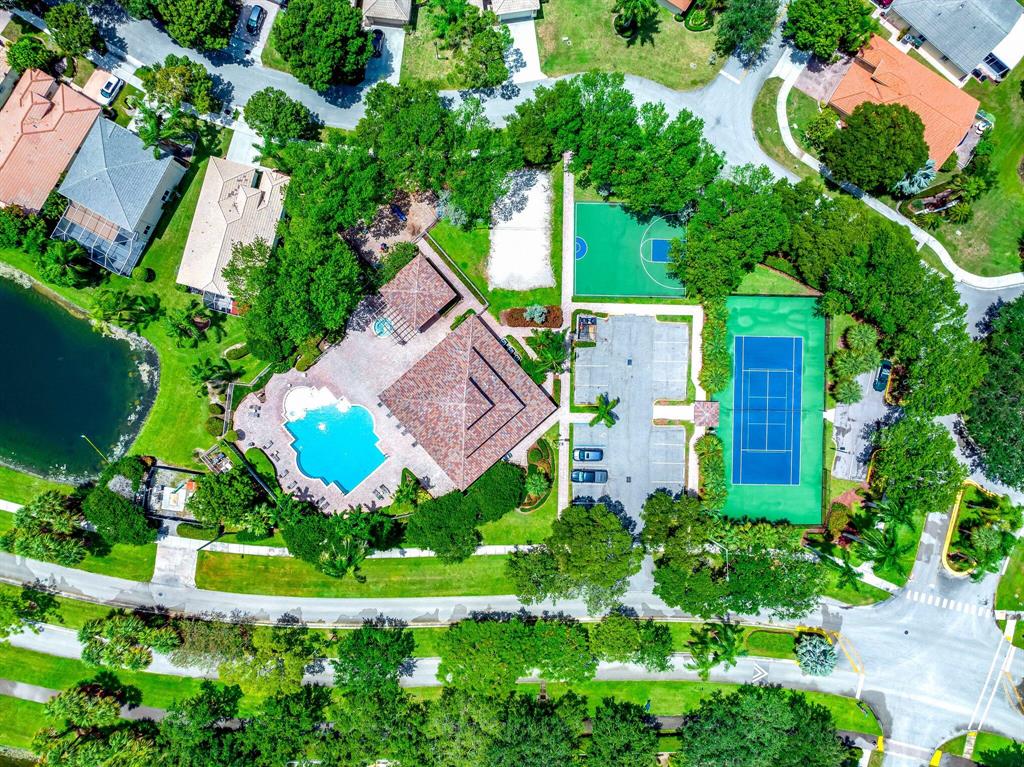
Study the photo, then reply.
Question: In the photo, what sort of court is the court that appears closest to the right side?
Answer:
tennis court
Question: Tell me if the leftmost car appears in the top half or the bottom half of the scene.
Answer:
top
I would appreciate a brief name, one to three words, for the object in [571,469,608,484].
vehicle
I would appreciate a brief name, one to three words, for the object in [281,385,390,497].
swimming pool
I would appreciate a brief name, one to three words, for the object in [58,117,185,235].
house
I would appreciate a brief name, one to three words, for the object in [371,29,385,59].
car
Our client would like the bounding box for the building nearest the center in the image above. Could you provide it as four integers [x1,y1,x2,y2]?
[378,313,557,491]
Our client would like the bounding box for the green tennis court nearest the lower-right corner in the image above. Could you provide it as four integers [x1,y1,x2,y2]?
[720,296,826,524]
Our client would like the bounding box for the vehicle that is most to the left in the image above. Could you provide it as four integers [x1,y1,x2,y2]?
[98,76,123,105]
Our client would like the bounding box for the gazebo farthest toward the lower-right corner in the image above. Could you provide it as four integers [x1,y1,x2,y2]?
[691,402,719,426]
